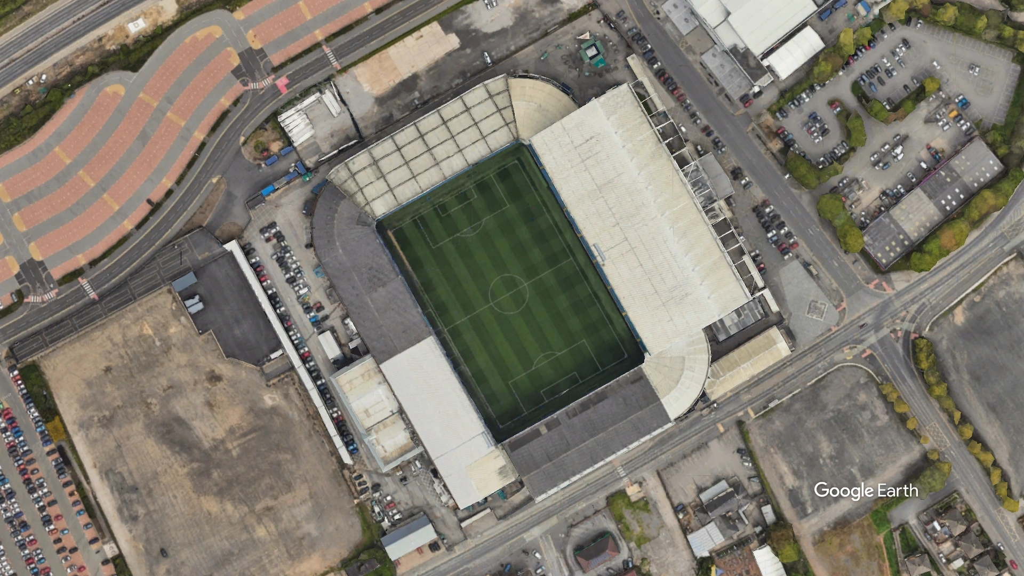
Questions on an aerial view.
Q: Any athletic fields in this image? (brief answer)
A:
Yes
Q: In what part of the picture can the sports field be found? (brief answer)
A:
center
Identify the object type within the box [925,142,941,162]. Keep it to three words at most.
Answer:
vehicle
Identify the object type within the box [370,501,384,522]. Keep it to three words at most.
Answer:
vehicle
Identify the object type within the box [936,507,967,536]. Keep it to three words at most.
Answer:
house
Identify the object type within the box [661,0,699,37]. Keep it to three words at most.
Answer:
building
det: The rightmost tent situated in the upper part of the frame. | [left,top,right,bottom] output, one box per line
[766,26,825,81]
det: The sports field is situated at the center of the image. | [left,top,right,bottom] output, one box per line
[389,158,629,430]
